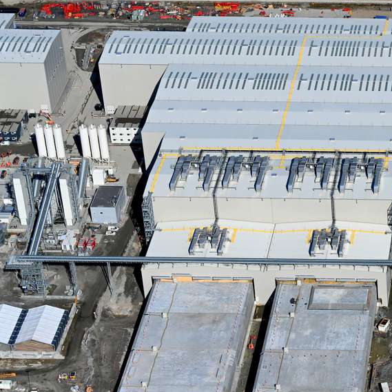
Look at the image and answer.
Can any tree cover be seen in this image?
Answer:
No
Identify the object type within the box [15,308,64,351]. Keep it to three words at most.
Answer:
tent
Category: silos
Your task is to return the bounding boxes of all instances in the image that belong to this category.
[85,122,100,167]
[41,122,56,159]
[95,122,110,167]
[75,122,90,165]
[51,122,66,165]
[31,122,45,165]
